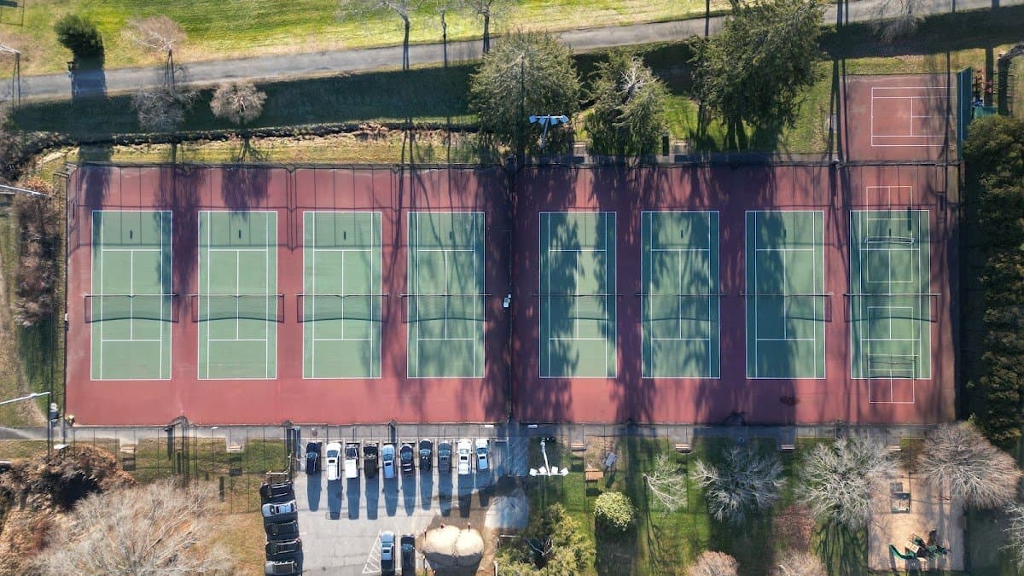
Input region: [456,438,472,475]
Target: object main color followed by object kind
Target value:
white car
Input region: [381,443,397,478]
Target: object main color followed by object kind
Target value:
blue car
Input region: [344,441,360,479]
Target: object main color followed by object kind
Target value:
white vehicle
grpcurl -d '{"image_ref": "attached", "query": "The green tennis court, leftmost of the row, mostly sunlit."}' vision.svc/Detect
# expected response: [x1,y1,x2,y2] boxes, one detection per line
[92,211,171,380]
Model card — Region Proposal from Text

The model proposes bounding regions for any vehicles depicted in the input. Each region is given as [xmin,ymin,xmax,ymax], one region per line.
[325,441,343,480]
[436,439,452,474]
[381,443,397,478]
[362,442,379,479]
[260,482,297,501]
[399,443,415,477]
[266,518,302,537]
[263,500,299,520]
[400,536,417,573]
[344,441,360,479]
[267,555,305,575]
[456,438,472,475]
[305,440,322,475]
[474,437,490,470]
[267,536,303,556]
[417,438,433,471]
